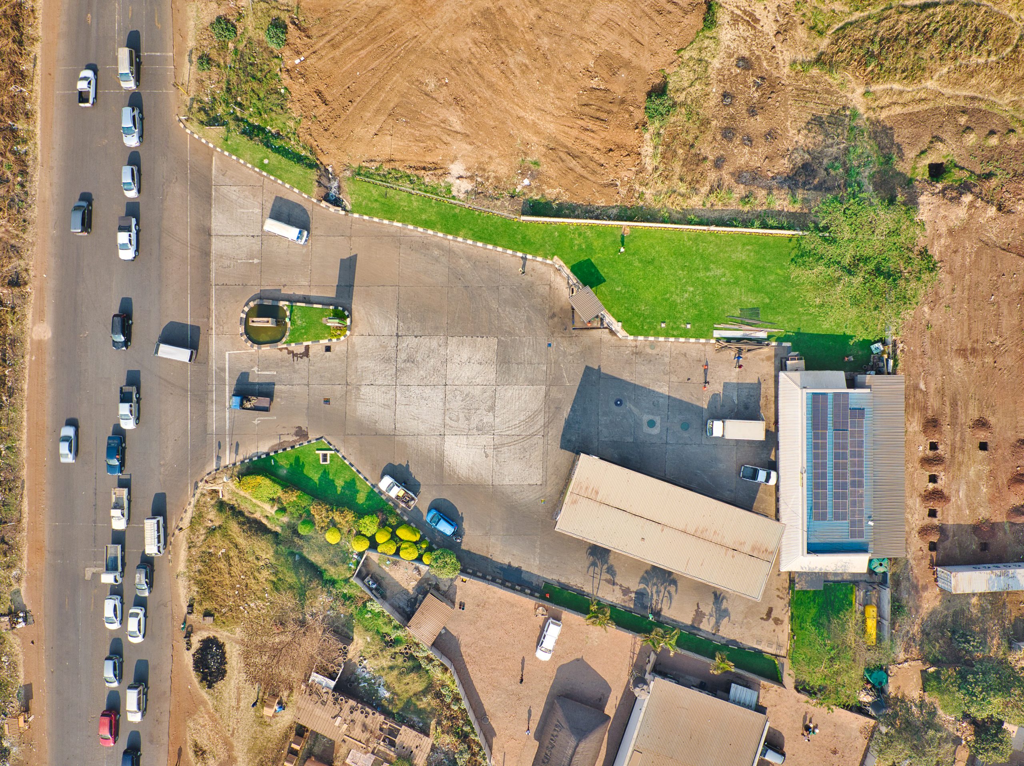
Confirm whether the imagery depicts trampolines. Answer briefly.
No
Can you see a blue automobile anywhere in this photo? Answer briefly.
Yes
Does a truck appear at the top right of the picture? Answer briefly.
No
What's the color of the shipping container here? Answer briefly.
white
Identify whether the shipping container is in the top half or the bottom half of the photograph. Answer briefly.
bottom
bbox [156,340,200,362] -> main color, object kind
white vehicle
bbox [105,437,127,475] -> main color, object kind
blue car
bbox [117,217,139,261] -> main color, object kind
white truck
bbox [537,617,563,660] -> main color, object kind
white car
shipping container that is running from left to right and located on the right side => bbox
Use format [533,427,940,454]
[936,561,1024,594]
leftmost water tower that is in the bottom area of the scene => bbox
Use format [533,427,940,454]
[619,654,651,700]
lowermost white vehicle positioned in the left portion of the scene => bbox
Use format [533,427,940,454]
[125,683,147,722]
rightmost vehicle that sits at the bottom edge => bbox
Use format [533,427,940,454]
[758,740,785,762]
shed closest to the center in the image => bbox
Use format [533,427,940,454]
[569,286,604,323]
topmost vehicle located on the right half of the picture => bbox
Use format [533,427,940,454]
[705,414,769,440]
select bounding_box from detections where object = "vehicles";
[59,426,81,464]
[121,747,142,766]
[156,340,200,362]
[117,217,139,261]
[134,562,154,596]
[122,106,144,146]
[537,617,563,660]
[105,437,127,475]
[71,200,94,236]
[118,386,140,428]
[76,69,98,109]
[262,217,309,244]
[142,516,165,556]
[379,474,419,510]
[121,165,141,198]
[736,465,778,486]
[101,543,124,586]
[117,45,140,90]
[230,391,274,410]
[103,654,124,687]
[99,710,120,746]
[705,414,769,440]
[110,488,131,529]
[125,683,147,722]
[425,508,460,538]
[758,740,785,762]
[127,605,147,642]
[103,595,124,629]
[111,314,133,349]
